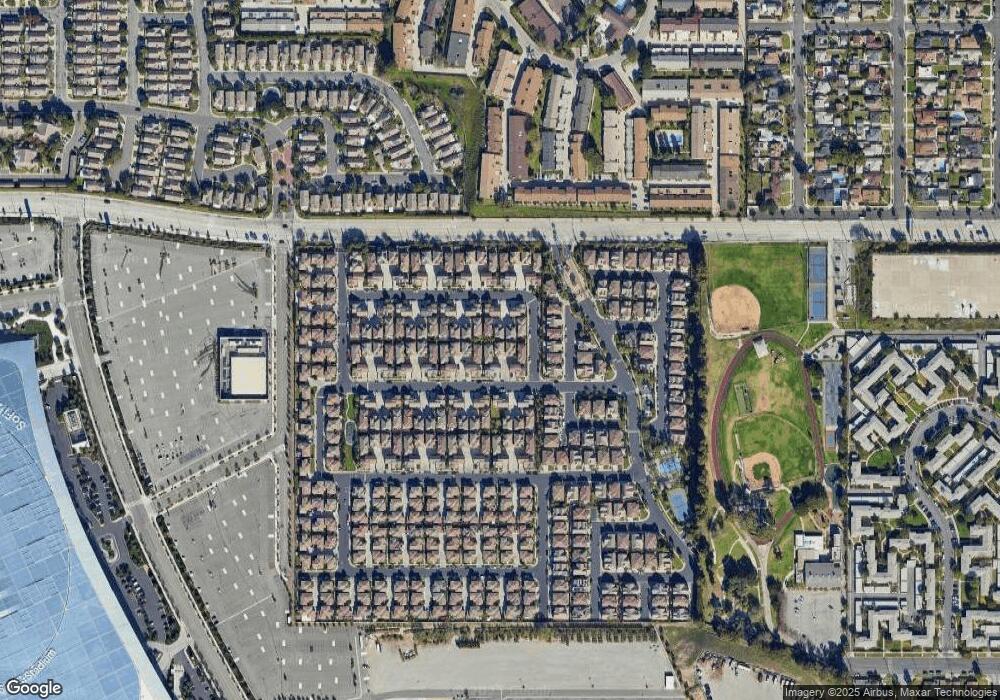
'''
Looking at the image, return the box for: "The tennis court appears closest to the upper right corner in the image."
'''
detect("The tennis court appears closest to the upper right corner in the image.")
[809,247,827,283]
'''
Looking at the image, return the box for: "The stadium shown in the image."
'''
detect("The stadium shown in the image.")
[0,337,175,700]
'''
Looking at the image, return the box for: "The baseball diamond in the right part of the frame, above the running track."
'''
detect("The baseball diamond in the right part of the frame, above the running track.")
[705,243,807,339]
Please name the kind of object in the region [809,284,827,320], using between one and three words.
tennis court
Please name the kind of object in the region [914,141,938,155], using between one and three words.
house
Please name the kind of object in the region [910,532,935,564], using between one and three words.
building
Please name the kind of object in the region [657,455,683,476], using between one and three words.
swimming pool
